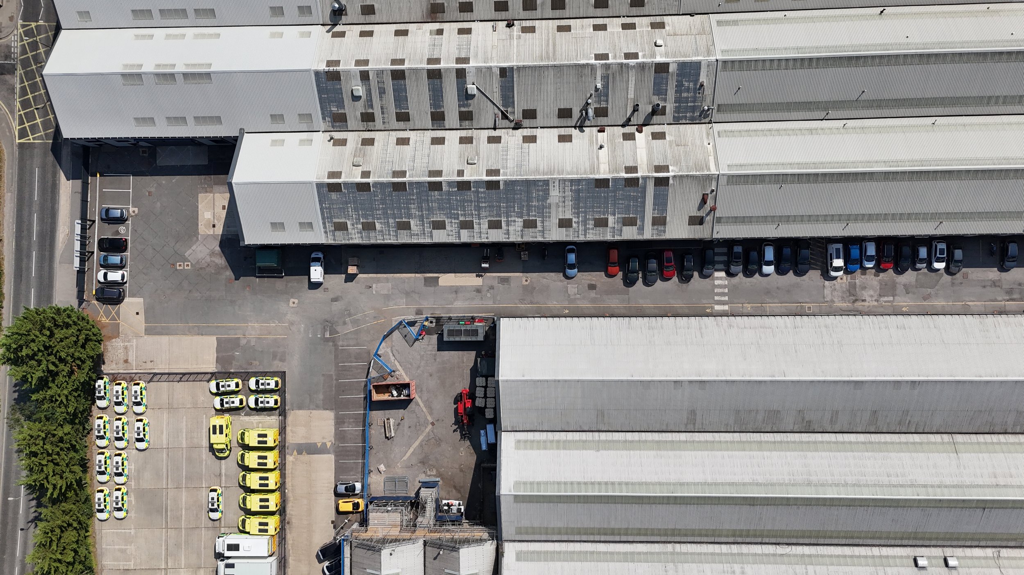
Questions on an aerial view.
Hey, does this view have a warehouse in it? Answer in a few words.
Yes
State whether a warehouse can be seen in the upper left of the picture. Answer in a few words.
Yes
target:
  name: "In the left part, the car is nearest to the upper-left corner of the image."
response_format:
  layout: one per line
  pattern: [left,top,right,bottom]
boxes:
[101,207,128,221]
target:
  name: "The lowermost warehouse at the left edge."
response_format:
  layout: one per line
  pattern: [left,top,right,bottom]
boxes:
[42,22,323,145]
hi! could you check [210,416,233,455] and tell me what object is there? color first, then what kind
yellow vehicle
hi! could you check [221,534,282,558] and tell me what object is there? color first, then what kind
white truck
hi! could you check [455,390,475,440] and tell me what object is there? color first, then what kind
red work vehicle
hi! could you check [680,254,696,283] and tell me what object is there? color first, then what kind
black car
